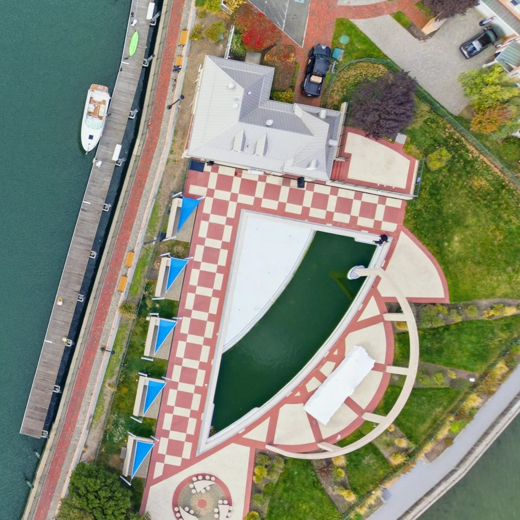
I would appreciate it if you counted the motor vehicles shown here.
two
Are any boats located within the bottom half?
No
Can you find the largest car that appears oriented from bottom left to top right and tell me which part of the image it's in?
top right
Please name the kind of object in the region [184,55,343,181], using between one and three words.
building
